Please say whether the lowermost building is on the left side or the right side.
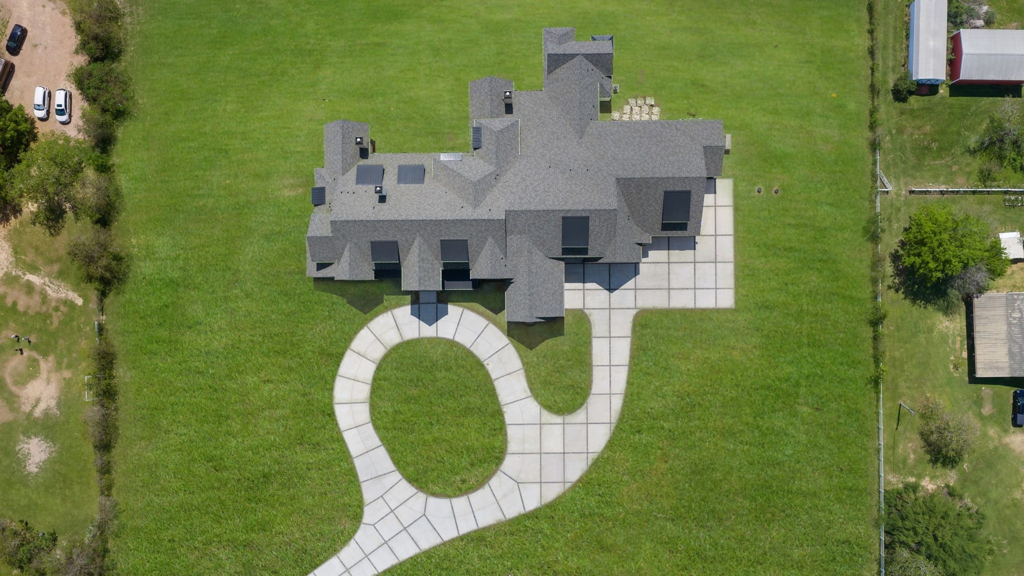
right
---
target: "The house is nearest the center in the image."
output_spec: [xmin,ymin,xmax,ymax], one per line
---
[306,27,731,323]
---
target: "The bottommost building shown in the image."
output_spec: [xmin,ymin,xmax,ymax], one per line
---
[966,292,1024,377]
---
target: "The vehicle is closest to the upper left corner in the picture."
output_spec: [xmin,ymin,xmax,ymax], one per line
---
[9,24,28,56]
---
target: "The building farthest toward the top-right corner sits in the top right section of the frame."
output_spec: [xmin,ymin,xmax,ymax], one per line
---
[950,29,1024,82]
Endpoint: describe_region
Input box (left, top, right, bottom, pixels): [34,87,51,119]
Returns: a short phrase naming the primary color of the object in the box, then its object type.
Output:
white car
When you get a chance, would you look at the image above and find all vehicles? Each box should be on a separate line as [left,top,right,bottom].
[56,90,73,123]
[1013,389,1024,427]
[0,58,14,98]
[34,87,51,119]
[9,24,28,56]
